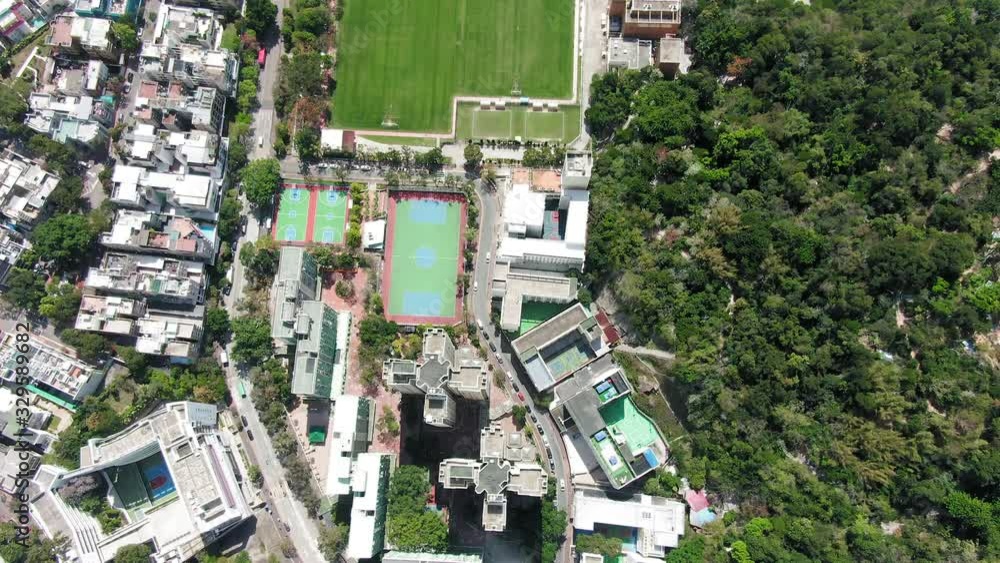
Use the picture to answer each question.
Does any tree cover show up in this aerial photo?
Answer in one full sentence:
Yes, some tree cover is visible.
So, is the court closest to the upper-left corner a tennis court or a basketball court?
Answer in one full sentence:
The court closest to the upper-left corner appears to be a basketball court.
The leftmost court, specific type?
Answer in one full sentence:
It looks like the leftmost court is a basketball court.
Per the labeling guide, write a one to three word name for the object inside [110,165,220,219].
house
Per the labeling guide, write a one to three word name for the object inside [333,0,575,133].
sports field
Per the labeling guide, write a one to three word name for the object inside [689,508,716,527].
shed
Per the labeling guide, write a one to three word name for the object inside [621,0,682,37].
building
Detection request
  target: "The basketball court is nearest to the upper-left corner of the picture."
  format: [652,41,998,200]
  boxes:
[272,184,350,246]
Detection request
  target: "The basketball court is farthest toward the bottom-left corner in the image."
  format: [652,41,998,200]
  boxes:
[106,449,184,524]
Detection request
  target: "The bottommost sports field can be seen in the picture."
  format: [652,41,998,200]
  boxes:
[459,101,578,141]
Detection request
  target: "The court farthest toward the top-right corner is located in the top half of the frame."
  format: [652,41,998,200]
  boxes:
[540,196,566,242]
